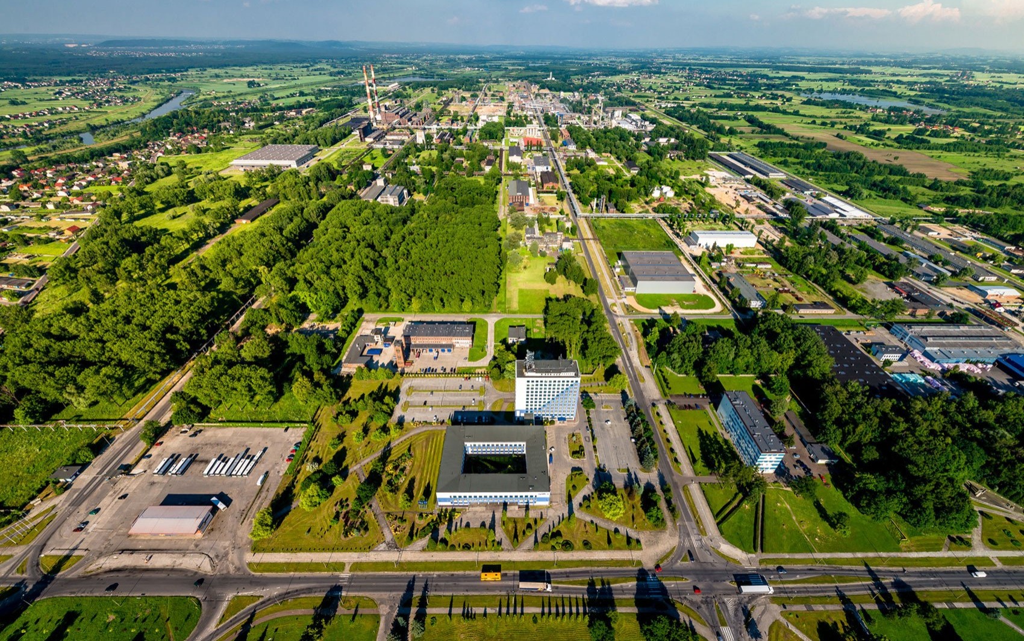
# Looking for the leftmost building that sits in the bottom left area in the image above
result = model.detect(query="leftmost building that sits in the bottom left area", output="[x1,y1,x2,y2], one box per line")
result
[49,465,85,481]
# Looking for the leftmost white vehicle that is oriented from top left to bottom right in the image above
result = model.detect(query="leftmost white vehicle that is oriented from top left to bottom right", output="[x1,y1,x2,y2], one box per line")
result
[211,496,226,512]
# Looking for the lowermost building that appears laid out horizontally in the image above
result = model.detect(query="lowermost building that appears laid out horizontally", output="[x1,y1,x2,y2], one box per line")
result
[126,505,220,538]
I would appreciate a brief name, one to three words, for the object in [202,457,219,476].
vehicle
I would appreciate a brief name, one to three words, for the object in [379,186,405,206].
building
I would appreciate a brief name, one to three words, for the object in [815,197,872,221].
shed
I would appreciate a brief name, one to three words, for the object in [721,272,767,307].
shed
